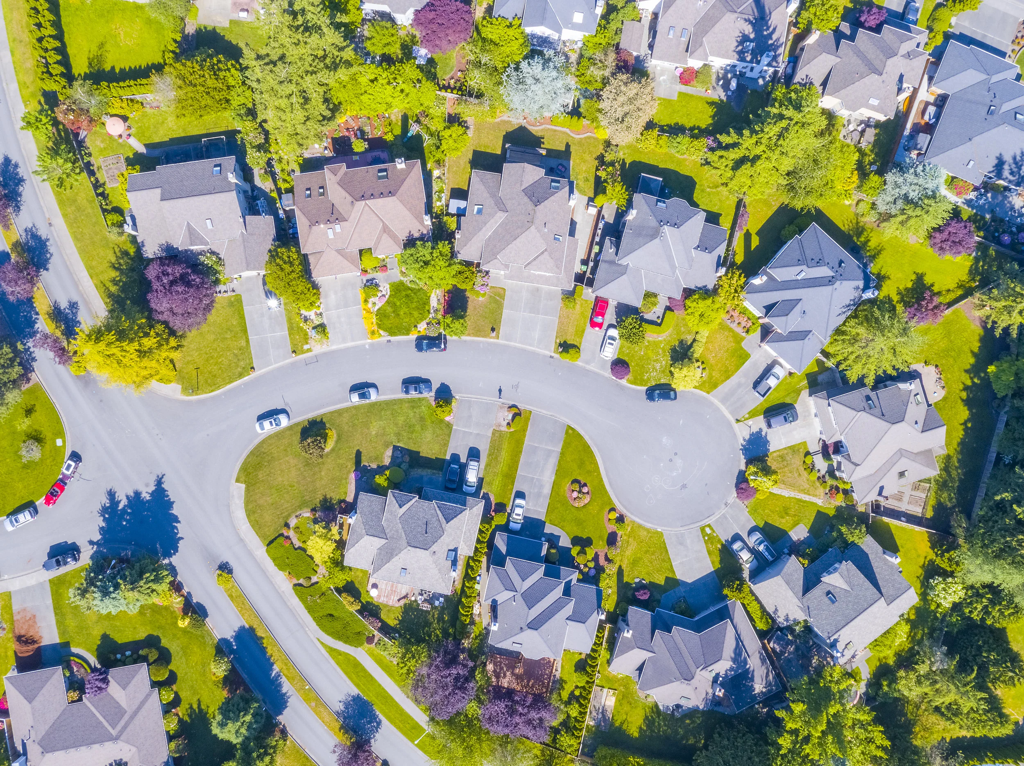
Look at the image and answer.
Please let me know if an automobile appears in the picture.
Yes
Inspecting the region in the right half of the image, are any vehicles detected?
Yes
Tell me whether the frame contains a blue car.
Yes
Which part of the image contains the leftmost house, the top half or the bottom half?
bottom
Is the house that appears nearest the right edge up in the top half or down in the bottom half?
top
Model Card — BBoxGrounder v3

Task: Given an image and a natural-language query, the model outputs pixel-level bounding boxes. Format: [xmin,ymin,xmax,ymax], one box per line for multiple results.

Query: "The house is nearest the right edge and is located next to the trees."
[924,39,1024,181]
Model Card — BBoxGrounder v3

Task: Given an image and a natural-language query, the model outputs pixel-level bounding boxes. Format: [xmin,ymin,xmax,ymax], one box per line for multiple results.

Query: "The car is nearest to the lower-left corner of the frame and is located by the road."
[41,549,81,573]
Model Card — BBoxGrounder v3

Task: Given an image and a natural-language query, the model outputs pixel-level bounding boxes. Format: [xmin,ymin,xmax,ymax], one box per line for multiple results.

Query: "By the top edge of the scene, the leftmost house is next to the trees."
[359,0,427,28]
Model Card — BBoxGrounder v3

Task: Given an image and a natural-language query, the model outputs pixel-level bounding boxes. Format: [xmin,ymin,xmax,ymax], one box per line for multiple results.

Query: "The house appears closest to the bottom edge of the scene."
[3,661,180,766]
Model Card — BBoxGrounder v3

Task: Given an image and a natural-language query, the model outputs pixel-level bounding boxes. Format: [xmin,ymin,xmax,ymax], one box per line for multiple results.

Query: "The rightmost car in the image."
[902,0,922,26]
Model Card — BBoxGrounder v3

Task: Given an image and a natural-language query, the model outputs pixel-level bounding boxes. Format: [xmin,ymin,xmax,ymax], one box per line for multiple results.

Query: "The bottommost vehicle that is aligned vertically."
[509,498,527,531]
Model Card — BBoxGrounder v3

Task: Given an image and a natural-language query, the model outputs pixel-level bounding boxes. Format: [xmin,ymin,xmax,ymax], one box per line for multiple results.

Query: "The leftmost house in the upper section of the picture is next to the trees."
[122,156,280,277]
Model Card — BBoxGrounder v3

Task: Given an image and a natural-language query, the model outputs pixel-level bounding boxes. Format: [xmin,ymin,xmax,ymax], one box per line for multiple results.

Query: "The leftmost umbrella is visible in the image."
[106,117,126,136]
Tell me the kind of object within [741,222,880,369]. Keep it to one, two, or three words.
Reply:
house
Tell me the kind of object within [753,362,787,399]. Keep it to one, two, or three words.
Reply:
truck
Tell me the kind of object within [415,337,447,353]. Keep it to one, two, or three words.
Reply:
car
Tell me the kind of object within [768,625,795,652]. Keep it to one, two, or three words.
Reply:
shed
